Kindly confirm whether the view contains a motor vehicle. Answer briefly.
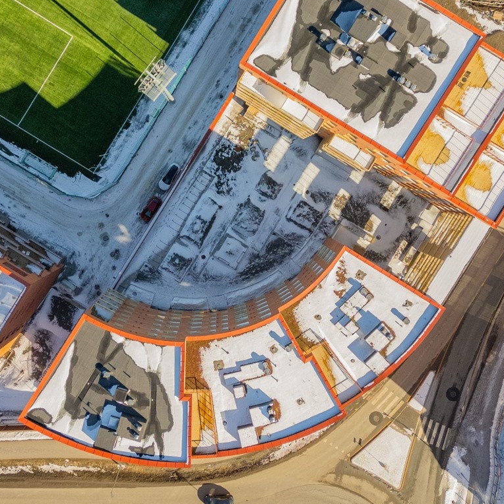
Yes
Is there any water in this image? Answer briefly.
No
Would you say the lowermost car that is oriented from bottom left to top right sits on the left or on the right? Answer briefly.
left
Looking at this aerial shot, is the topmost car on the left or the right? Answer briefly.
left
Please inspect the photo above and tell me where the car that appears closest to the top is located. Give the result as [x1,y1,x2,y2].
[158,163,181,194]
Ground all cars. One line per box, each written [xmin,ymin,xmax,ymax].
[140,196,163,225]
[158,163,181,194]
[204,492,235,504]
